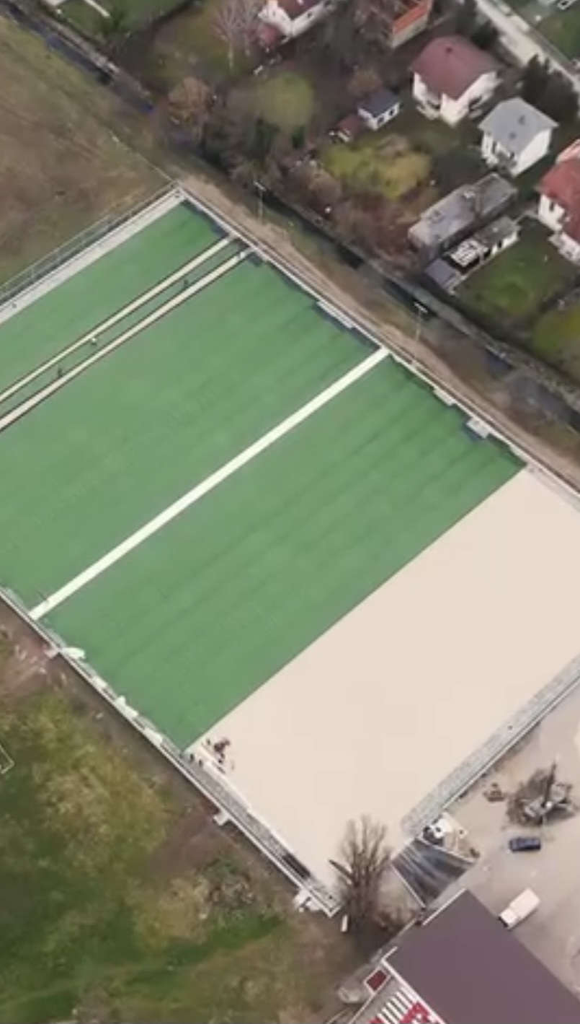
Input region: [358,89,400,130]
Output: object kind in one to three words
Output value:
house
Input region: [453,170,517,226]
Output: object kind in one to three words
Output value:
shed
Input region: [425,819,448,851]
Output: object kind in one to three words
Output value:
work vehicle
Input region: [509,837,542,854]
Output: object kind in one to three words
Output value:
car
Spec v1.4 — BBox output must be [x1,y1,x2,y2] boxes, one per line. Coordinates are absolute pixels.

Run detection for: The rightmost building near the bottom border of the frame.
[381,885,580,1024]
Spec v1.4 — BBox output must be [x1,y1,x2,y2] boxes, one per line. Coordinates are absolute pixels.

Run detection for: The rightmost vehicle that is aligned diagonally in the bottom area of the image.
[500,887,542,933]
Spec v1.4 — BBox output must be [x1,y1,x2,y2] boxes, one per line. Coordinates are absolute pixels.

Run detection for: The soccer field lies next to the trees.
[0,192,580,912]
